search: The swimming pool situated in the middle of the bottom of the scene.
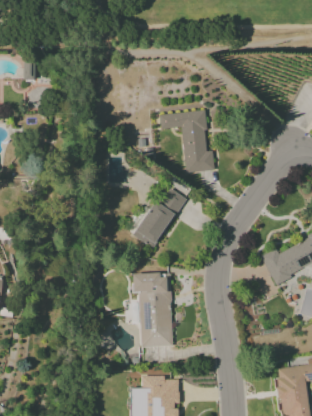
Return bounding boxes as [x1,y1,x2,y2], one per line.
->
[114,326,134,352]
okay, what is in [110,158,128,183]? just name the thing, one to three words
swimming pool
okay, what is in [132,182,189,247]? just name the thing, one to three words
house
